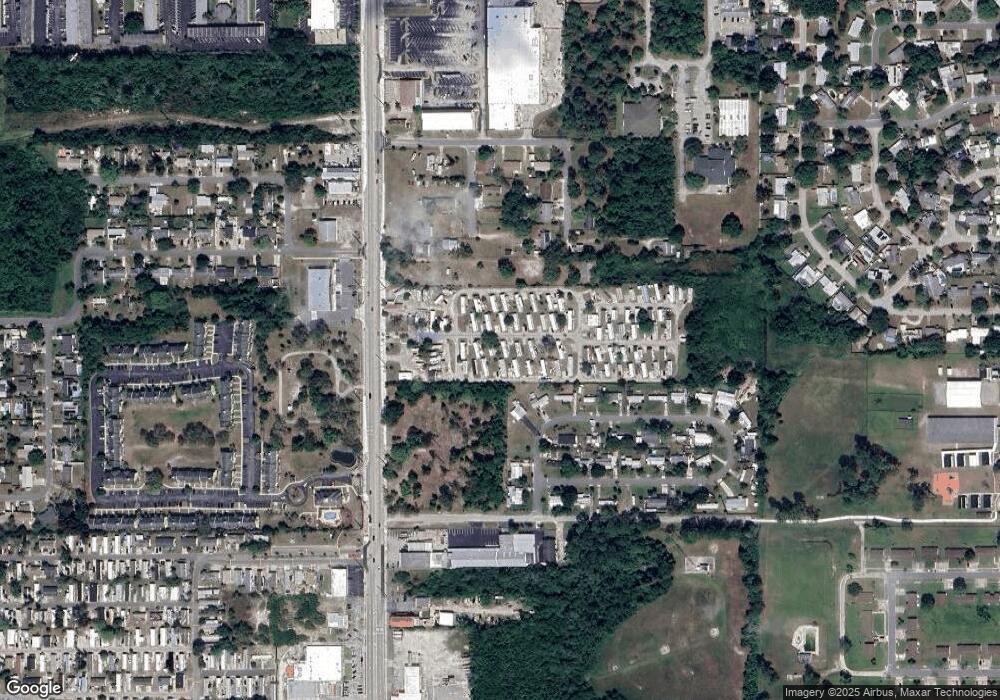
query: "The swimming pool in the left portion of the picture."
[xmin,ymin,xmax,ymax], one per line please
[319,510,341,528]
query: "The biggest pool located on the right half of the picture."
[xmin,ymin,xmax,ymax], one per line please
[792,625,818,655]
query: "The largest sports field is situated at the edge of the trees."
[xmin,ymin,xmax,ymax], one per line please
[766,525,839,622]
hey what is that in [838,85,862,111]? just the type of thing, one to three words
house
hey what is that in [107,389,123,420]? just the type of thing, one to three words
building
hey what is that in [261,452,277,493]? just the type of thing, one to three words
building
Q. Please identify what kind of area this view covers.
residential area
